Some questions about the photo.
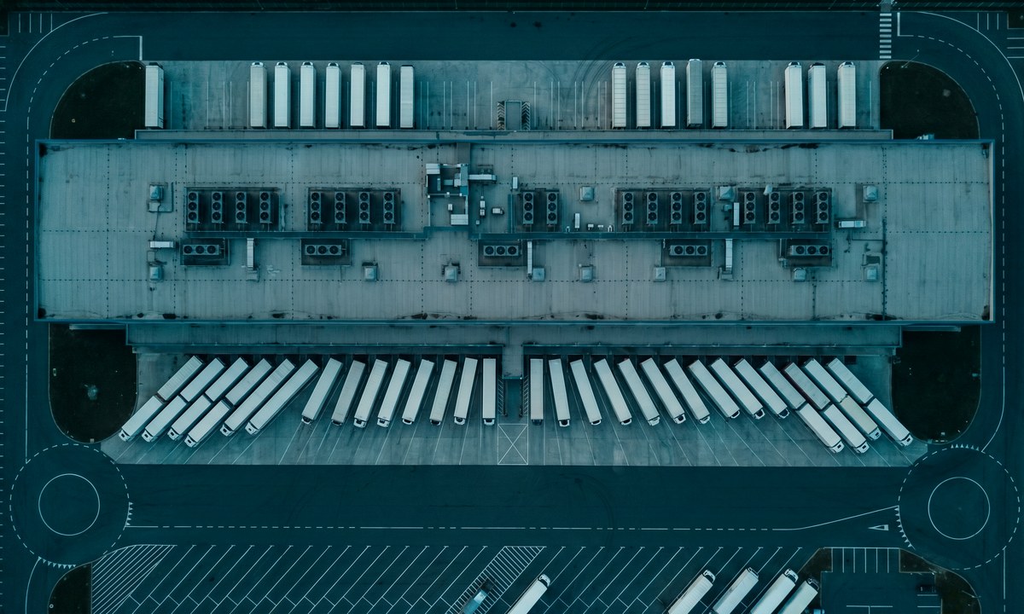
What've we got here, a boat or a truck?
truck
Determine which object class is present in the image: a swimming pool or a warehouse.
warehouse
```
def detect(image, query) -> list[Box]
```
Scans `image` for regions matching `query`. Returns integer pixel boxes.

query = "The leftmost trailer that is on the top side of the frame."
[146,63,165,129]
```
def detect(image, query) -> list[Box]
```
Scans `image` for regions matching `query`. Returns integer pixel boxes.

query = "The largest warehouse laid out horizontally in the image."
[35,126,995,378]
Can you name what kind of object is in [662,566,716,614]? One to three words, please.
truck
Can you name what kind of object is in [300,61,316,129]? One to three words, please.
vehicle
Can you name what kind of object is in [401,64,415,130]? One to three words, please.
trailer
